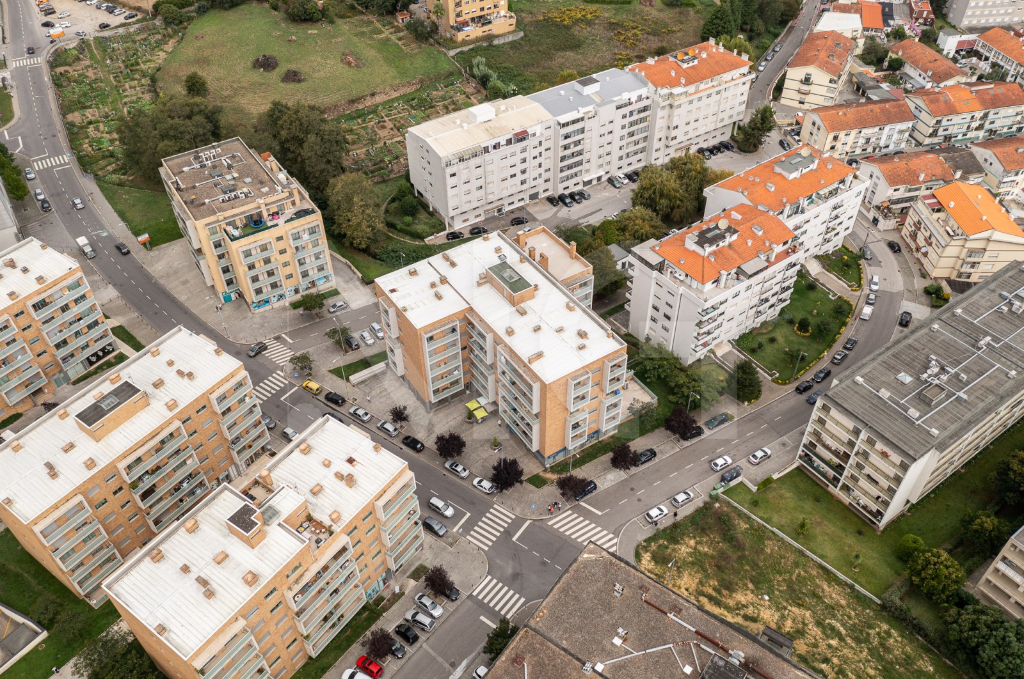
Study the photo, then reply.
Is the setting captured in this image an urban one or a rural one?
urban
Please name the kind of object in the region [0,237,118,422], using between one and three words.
building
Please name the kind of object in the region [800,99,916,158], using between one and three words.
house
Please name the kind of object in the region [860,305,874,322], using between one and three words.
vehicle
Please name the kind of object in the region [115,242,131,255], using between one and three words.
vehicle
